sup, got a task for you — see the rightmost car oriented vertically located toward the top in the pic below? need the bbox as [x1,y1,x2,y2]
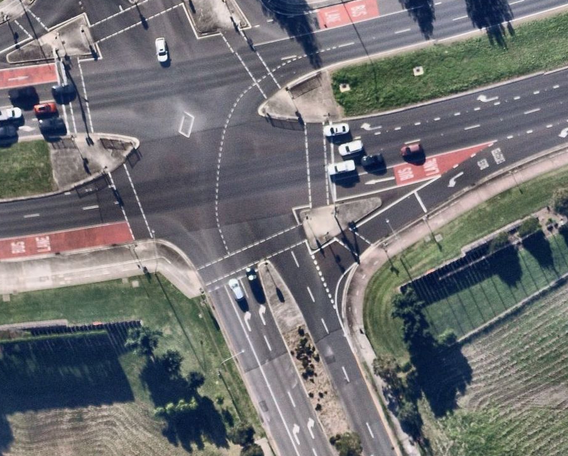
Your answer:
[155,38,168,64]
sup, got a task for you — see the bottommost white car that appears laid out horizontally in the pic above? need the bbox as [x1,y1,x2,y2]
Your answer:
[328,162,355,176]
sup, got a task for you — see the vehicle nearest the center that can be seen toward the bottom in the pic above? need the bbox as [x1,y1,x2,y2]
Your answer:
[245,265,262,291]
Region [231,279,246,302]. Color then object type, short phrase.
white car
